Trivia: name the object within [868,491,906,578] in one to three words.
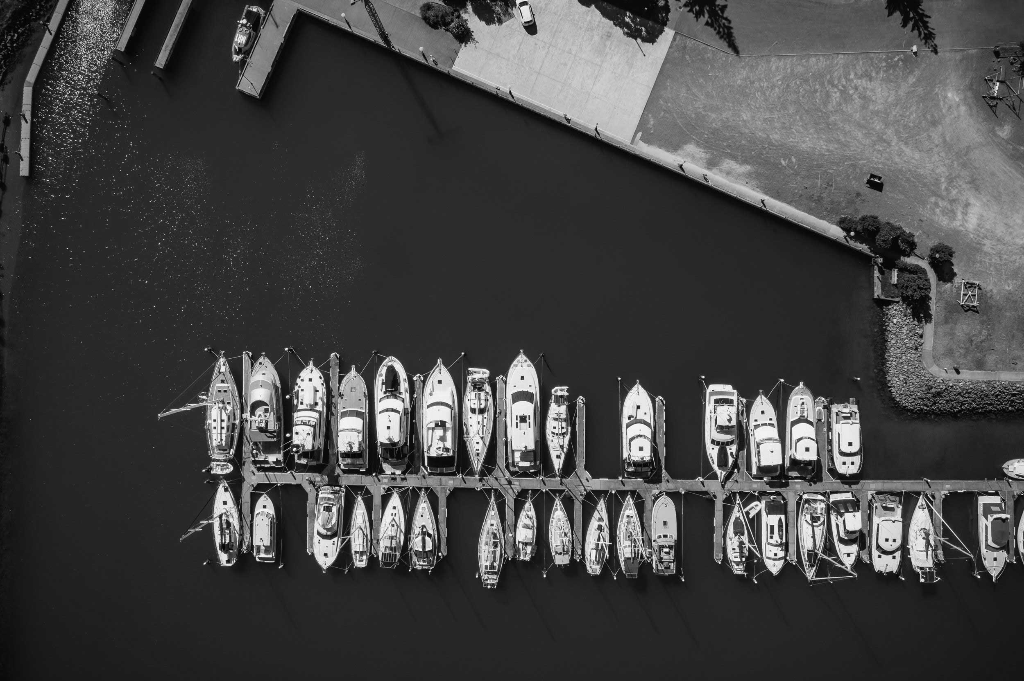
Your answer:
boat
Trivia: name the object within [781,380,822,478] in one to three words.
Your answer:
boat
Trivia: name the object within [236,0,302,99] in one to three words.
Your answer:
pier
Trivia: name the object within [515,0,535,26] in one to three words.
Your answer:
car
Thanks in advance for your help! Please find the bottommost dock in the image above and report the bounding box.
[242,351,1024,562]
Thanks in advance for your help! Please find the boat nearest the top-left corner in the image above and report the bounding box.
[230,1,266,71]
